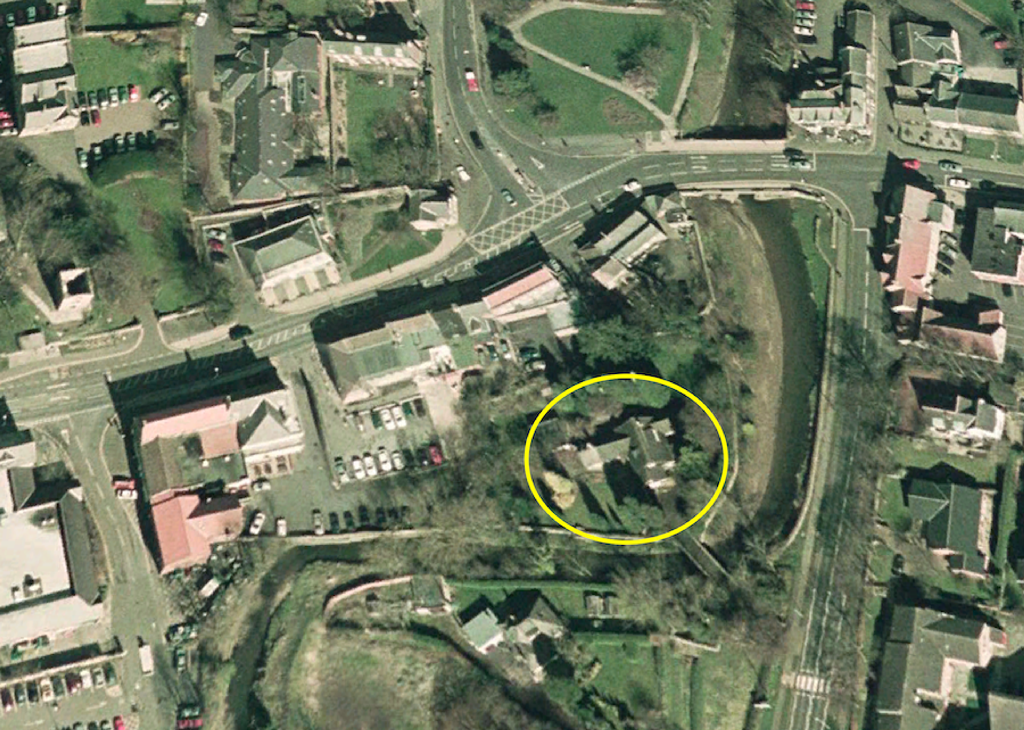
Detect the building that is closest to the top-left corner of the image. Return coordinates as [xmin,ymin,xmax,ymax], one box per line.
[12,11,82,133]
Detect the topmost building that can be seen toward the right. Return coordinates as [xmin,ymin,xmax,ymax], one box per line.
[893,18,961,92]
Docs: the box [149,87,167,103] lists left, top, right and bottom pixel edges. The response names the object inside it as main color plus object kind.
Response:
white car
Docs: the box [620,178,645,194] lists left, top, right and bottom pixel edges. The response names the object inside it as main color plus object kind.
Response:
white vehicle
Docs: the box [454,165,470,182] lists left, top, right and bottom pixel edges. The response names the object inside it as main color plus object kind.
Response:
white car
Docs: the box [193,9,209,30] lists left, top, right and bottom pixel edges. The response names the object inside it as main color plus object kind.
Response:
white vehicle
